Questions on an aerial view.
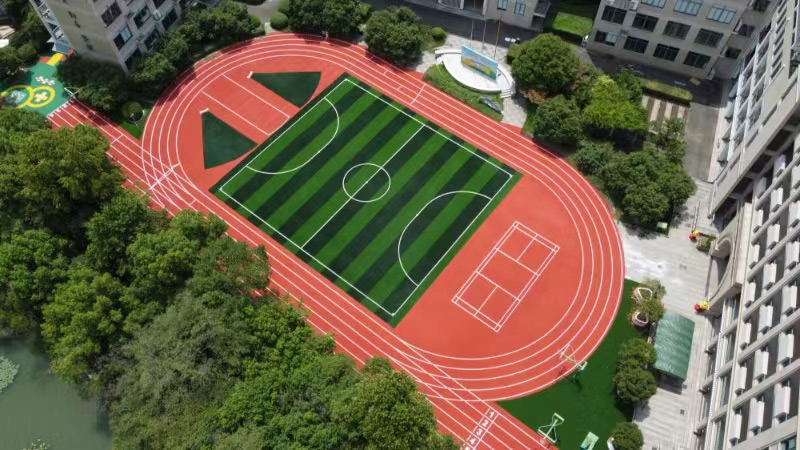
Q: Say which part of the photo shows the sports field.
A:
center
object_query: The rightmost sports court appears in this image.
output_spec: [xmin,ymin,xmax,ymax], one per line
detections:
[452,220,559,332]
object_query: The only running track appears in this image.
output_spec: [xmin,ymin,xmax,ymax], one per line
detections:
[46,32,624,450]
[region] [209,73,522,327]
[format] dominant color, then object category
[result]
green sports field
